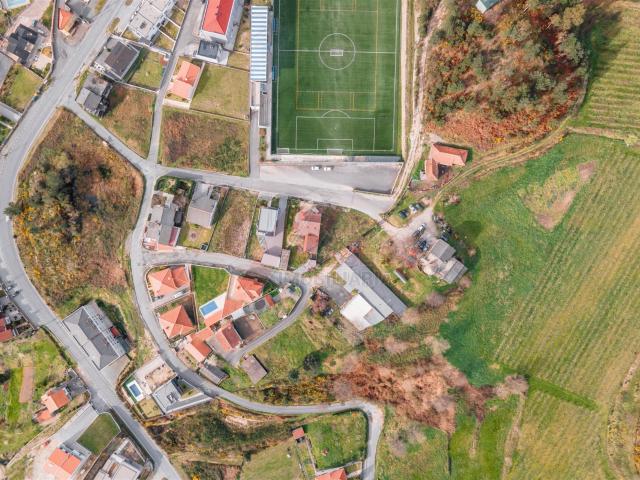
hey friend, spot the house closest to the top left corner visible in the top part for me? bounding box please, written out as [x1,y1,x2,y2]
[8,24,45,62]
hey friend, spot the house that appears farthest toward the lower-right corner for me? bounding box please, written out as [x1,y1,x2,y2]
[441,257,468,284]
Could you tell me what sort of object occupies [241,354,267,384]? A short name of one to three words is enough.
barn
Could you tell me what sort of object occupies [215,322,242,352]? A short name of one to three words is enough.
house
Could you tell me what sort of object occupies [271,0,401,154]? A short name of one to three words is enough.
soccer field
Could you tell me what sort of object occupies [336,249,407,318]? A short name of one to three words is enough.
building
